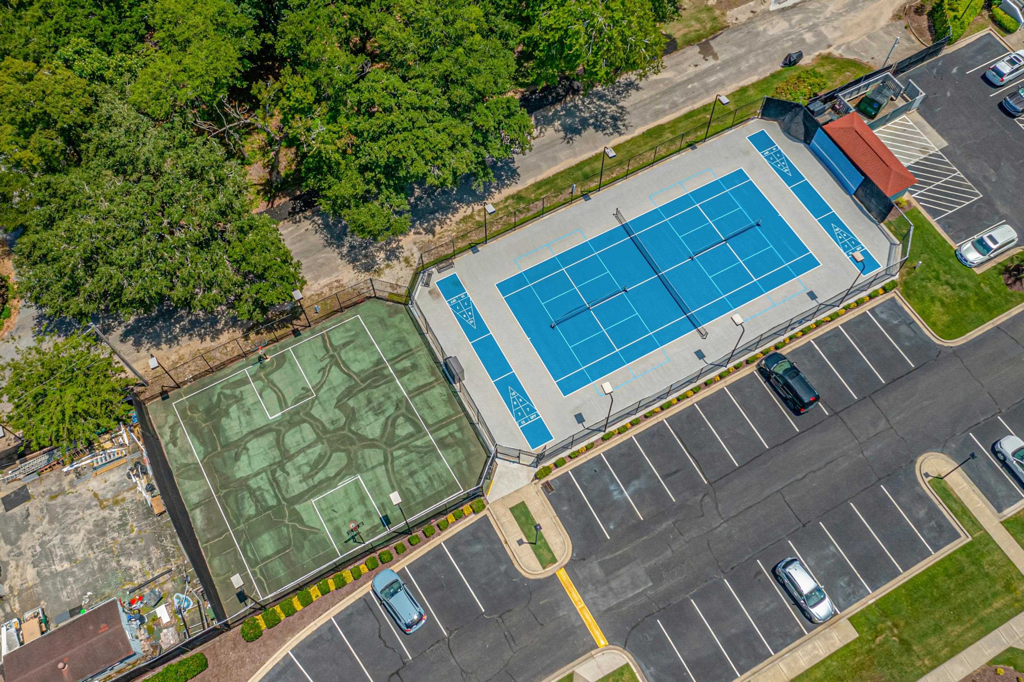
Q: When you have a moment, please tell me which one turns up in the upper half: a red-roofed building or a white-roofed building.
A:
red-roofed building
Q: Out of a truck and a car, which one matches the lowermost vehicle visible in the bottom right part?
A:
car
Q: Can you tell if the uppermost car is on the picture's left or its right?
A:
right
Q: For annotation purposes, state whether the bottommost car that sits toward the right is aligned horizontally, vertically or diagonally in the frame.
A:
diagonally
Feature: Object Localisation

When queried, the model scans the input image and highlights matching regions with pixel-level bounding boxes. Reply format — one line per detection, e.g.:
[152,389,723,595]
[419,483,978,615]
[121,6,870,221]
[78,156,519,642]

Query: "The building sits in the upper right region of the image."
[823,111,919,204]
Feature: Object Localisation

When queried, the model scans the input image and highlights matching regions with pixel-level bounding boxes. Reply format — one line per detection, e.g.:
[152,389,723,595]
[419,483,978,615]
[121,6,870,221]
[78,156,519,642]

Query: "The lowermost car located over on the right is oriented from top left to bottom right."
[776,556,833,625]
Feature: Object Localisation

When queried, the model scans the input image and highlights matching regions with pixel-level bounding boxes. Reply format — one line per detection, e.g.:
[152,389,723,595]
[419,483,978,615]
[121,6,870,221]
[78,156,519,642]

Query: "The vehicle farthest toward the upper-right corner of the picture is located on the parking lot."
[986,50,1024,86]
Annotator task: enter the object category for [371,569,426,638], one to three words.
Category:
car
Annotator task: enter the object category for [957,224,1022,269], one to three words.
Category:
car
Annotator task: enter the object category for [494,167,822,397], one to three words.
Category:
tennis court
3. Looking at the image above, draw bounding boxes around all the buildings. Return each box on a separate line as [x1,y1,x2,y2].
[2,598,150,682]
[823,111,919,204]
